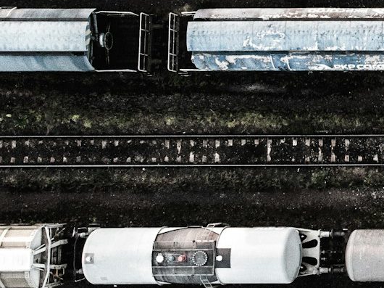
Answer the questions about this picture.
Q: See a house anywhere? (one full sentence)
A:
No, no house is visible in the scene.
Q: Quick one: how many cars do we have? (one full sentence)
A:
The count of cars is 0.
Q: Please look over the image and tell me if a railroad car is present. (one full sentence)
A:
Yes, there is a railroad car in the image.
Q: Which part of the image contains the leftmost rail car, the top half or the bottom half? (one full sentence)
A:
The leftmost rail car is in the bottom half of the image.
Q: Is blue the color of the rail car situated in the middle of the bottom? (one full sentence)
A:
No, the rail car situated in the middle of the bottom is actually white.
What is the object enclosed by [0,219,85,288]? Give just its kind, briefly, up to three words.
rail car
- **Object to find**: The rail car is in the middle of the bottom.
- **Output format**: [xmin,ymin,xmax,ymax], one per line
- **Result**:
[65,221,331,288]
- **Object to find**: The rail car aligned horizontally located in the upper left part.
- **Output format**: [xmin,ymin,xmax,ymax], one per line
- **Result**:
[0,7,176,76]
